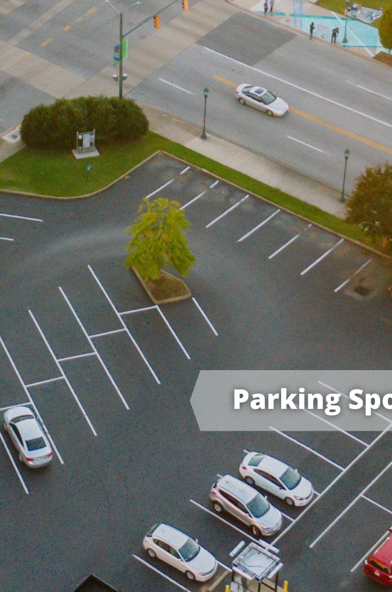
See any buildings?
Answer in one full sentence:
No, no building can be seen from above.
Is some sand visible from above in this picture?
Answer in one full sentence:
No, the picture contains no sand.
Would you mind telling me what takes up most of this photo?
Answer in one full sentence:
What you mostly see from above here is paved ground.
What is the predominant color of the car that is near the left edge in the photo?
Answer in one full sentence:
The car that is near the left edge is white.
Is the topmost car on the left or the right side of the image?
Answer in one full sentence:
The topmost car is on the right side of the image.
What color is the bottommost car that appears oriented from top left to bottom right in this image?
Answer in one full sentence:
In this view, the bottommost car that appears oriented from top left to bottom right is white.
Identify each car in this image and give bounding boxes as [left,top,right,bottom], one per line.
[232,83,292,118]
[2,409,50,466]
[367,530,392,586]
[240,454,318,509]
[208,478,285,537]
[143,525,217,583]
